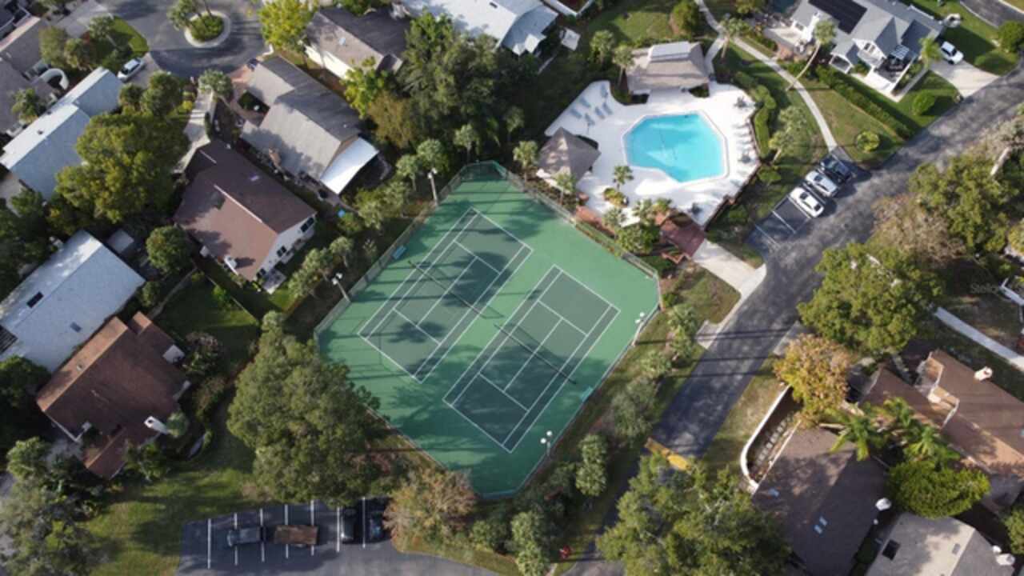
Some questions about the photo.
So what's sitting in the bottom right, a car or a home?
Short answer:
home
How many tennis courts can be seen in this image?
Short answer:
2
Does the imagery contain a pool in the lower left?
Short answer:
No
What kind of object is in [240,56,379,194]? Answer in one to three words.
house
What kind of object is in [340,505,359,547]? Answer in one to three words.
car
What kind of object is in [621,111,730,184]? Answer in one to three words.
swimming pool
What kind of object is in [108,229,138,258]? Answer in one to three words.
shed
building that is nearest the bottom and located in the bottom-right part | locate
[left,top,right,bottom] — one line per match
[863,511,1016,576]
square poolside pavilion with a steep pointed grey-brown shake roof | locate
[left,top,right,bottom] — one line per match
[537,130,602,181]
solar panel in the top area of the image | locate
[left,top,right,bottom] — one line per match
[811,0,870,34]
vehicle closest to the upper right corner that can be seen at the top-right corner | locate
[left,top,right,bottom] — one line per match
[936,37,968,64]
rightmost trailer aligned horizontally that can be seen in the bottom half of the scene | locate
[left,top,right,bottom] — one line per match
[268,523,319,547]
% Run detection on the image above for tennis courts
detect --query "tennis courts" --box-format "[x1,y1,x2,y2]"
[401,225,658,496]
[320,175,571,428]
